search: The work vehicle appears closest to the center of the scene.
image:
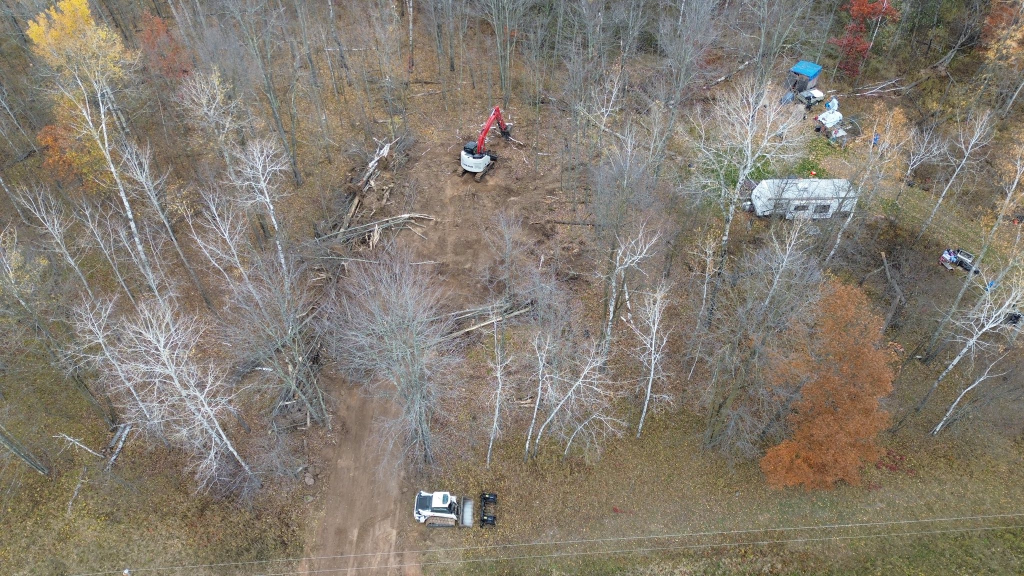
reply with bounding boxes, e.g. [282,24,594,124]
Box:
[452,103,514,184]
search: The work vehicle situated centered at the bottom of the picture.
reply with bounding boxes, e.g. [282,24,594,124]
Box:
[409,486,476,529]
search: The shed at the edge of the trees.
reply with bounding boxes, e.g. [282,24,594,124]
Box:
[792,59,827,93]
